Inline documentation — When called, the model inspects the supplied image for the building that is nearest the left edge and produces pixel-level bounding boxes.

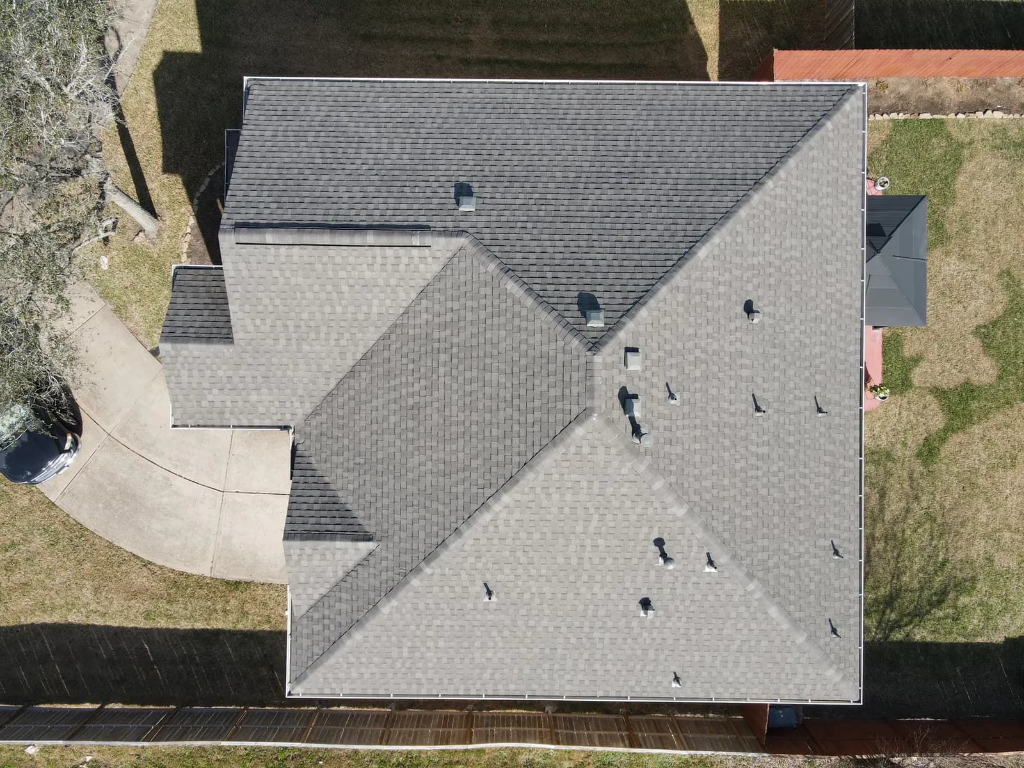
[157,77,867,703]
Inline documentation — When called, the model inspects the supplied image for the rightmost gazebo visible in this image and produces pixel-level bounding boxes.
[865,194,929,328]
